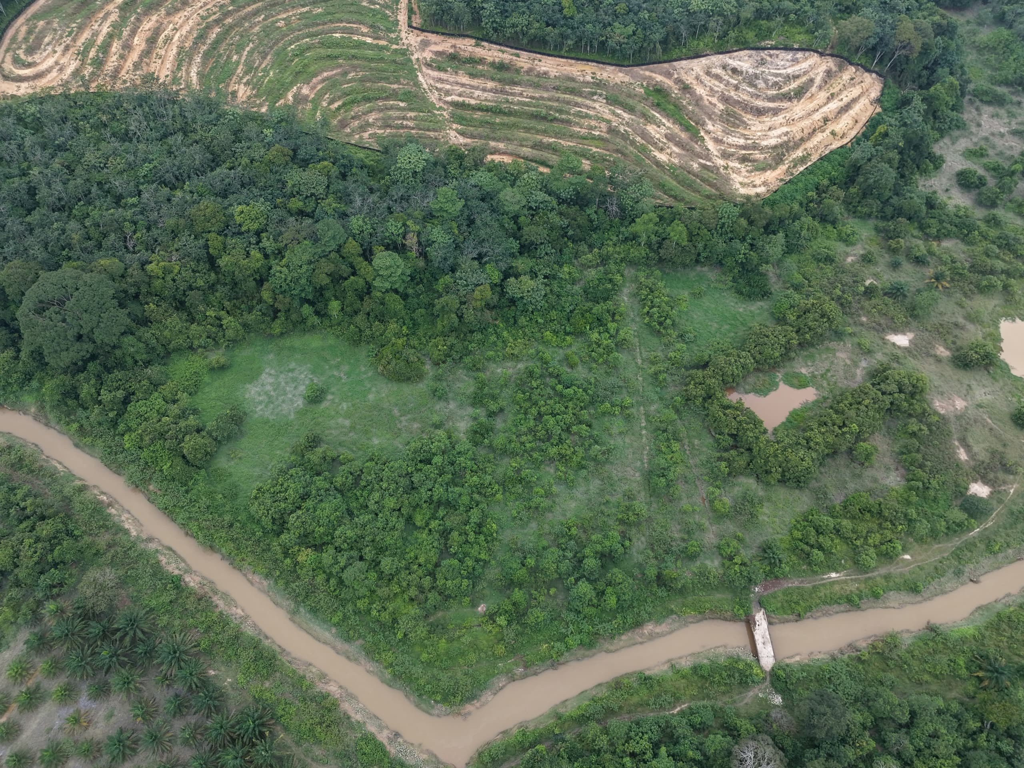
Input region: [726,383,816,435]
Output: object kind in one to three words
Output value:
pond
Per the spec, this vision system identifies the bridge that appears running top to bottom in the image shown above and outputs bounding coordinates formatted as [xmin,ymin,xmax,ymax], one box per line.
[747,608,775,668]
